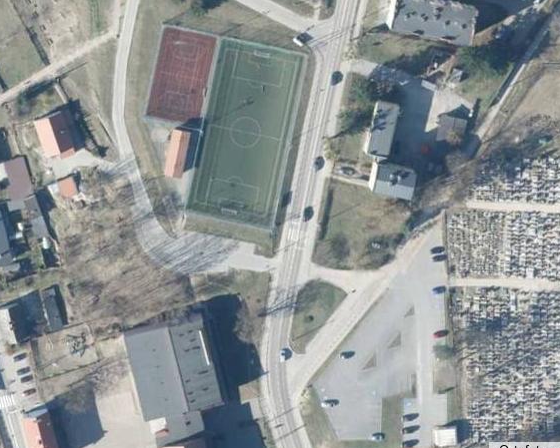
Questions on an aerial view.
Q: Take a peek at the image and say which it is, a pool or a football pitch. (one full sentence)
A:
I can see a football pitch in this picture.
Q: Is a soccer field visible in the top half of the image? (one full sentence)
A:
Yes, you'll find a soccer field in the top half of the image.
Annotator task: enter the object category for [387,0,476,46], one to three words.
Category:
building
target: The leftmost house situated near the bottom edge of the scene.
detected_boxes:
[22,411,58,448]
